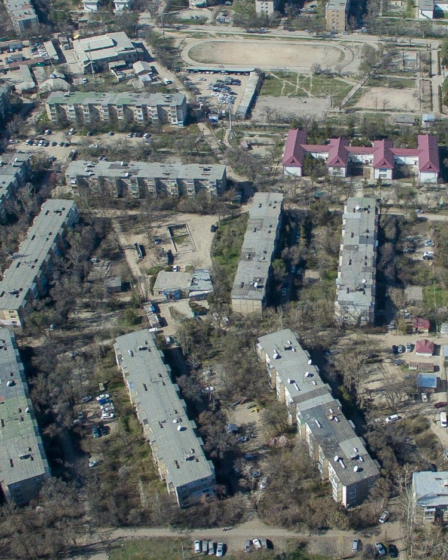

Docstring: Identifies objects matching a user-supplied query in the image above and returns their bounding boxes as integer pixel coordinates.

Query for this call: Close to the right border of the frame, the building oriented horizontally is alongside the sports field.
[283,125,440,184]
